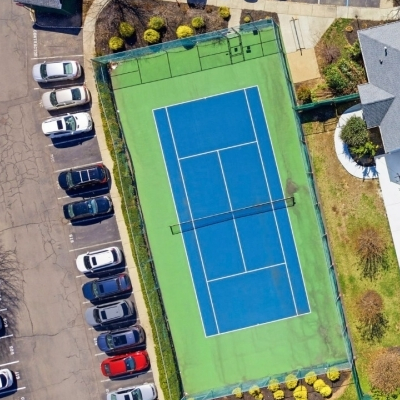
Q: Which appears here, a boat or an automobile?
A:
automobile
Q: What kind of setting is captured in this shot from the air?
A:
sports ground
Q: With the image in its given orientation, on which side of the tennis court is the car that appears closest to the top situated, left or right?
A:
on its left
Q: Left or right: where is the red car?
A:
left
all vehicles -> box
[105,382,158,400]
[77,248,124,273]
[87,299,137,327]
[43,88,92,110]
[99,350,151,377]
[41,111,93,137]
[62,196,114,221]
[98,326,148,354]
[0,369,18,392]
[58,164,112,191]
[34,59,84,83]
[83,273,134,301]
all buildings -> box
[357,20,400,153]
[12,0,79,16]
